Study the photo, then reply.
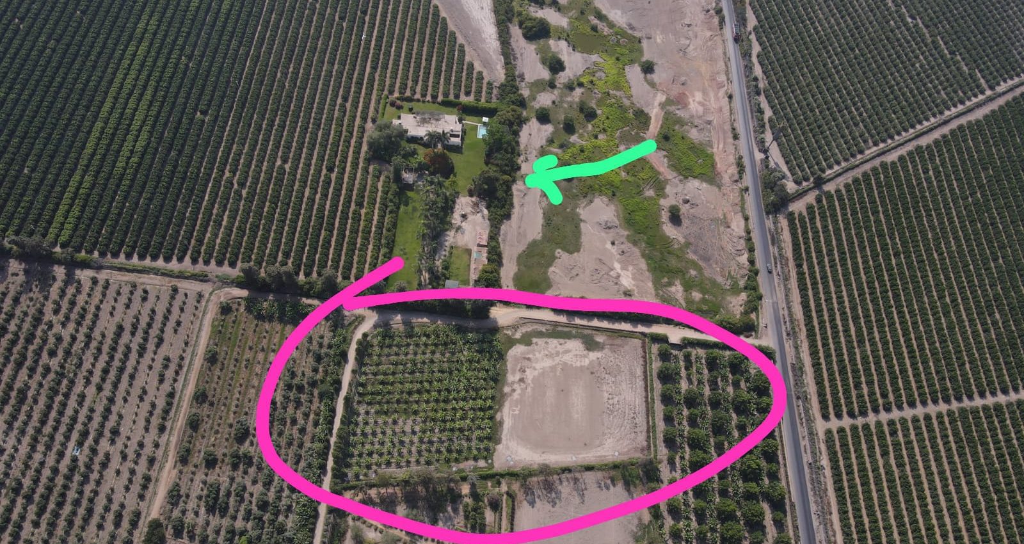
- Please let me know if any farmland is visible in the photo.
Yes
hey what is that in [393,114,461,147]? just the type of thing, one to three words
house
